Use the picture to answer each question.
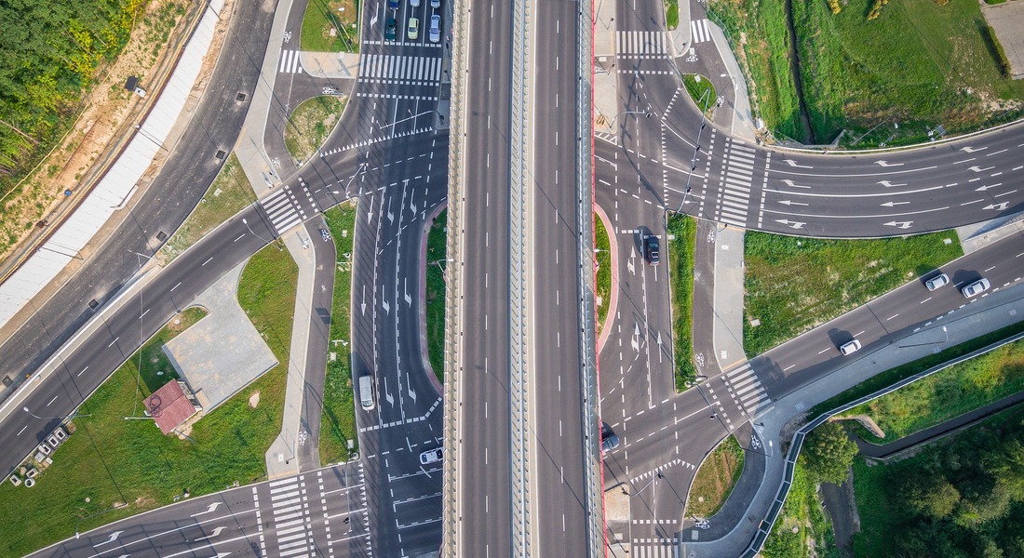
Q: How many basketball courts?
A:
0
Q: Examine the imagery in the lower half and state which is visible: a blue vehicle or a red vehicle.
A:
blue vehicle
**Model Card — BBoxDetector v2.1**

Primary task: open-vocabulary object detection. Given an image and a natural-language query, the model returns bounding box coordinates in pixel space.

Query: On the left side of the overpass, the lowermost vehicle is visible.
[418,448,442,466]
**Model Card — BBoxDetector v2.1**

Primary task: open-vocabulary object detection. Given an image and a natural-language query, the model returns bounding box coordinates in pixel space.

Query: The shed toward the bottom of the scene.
[144,373,225,435]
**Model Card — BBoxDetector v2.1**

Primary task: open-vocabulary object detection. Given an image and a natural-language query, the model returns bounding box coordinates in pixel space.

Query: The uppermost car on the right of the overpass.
[647,235,661,265]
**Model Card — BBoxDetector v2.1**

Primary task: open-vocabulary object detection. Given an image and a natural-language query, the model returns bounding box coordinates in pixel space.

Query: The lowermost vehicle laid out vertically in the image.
[358,376,374,412]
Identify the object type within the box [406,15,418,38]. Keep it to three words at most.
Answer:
vehicle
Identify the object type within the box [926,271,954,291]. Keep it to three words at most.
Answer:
car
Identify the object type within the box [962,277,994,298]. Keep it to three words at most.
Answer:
car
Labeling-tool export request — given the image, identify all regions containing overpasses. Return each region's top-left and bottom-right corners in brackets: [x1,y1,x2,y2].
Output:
[440,0,603,558]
